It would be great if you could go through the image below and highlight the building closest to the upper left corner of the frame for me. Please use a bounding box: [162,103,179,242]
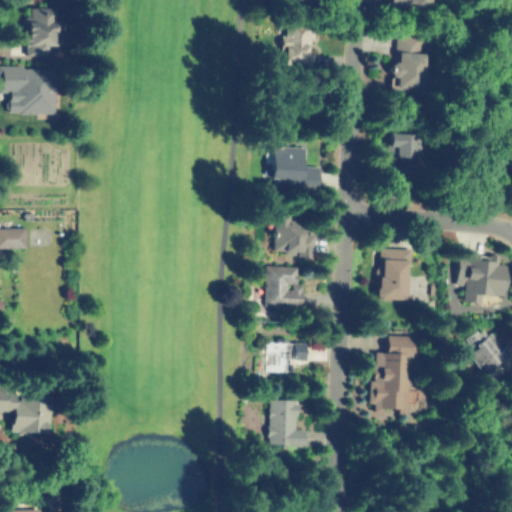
[27,8,59,57]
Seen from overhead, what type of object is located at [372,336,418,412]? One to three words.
house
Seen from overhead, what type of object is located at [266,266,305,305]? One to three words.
house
